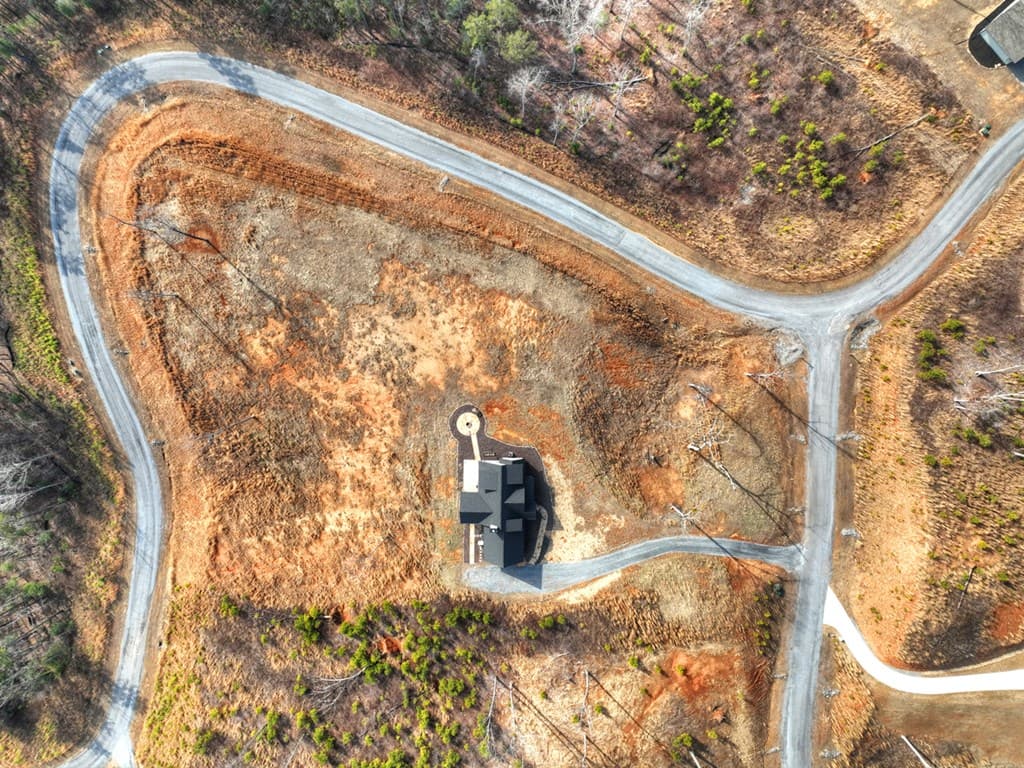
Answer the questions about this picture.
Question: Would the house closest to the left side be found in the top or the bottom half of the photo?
bottom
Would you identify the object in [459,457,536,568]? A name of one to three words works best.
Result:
house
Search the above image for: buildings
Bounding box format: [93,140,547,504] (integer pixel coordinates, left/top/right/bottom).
[967,0,1024,74]
[459,457,536,568]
